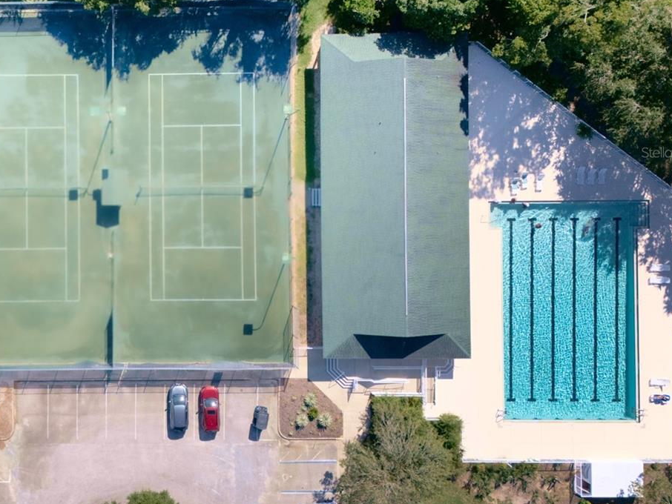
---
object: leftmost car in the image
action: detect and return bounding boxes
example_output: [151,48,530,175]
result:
[167,382,189,431]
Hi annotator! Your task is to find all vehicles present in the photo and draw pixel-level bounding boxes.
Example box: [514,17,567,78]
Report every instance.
[167,382,189,431]
[199,386,221,431]
[251,404,269,434]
